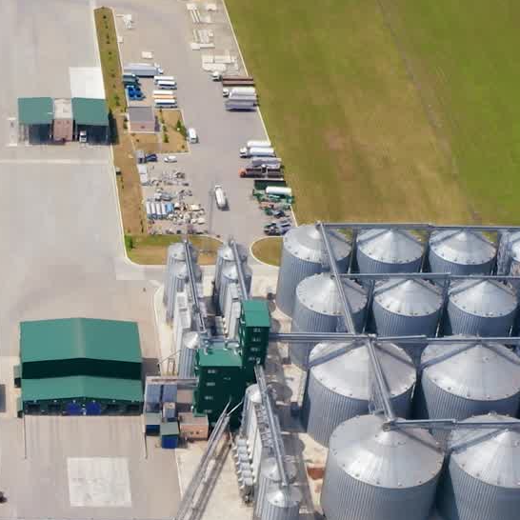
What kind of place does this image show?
industrial area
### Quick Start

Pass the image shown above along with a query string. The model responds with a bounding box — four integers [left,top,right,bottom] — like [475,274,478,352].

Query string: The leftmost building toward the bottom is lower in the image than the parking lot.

[13,317,143,414]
